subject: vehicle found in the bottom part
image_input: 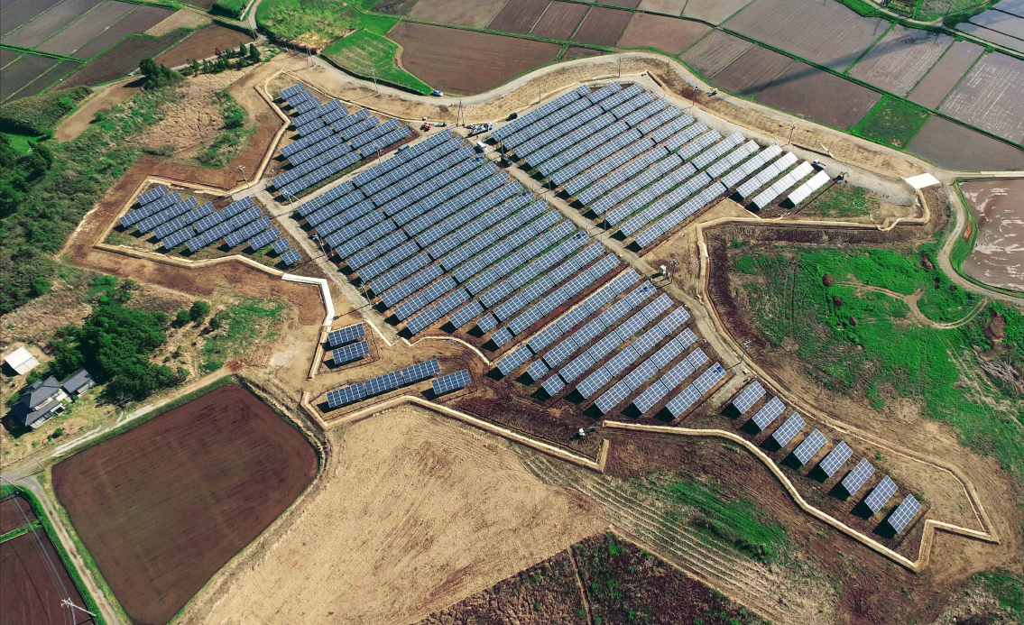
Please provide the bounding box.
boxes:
[575,426,594,439]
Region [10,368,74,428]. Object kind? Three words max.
house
